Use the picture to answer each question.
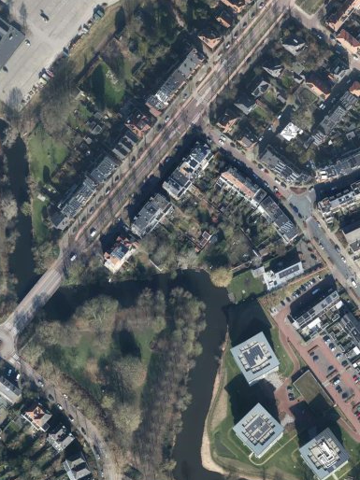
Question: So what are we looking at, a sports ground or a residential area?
residential area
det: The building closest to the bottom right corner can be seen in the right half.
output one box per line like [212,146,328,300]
[298,427,349,480]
